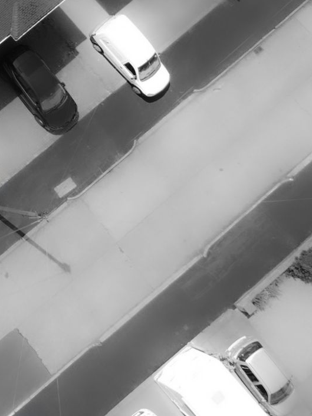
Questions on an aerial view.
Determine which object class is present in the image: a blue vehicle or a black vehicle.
black vehicle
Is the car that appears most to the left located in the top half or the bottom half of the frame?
top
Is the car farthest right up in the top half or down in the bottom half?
bottom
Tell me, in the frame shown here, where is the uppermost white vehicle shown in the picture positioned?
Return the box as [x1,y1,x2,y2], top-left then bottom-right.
[90,10,174,100]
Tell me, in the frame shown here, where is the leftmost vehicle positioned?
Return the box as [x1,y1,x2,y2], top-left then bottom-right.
[1,41,82,135]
